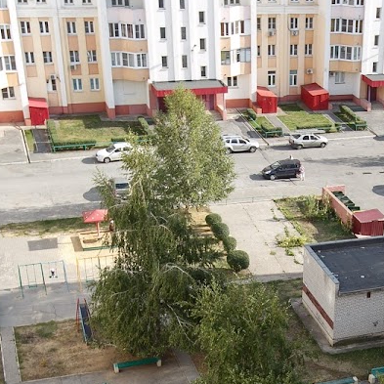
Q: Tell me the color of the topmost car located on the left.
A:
white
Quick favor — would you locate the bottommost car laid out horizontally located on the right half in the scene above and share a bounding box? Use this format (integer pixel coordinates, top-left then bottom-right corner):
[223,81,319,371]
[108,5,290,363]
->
[260,159,305,182]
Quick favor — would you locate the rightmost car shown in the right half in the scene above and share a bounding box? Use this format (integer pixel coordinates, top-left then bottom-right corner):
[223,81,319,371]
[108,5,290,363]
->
[285,132,329,151]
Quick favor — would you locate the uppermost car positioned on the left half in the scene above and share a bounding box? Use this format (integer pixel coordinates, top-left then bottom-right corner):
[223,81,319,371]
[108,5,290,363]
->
[91,143,135,164]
